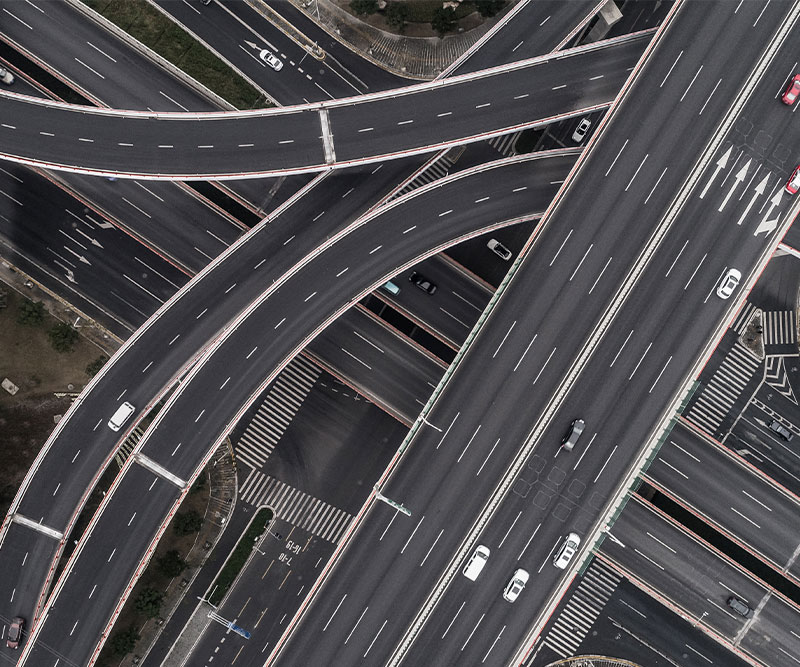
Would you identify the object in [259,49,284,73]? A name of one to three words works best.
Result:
car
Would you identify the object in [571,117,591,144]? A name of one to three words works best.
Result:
car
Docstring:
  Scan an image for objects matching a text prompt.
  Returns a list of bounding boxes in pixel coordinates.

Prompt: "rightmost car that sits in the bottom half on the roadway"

[767,419,794,441]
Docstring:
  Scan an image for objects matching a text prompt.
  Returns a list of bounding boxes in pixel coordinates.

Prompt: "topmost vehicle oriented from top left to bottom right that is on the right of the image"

[486,239,512,261]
